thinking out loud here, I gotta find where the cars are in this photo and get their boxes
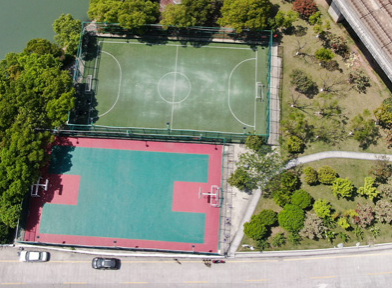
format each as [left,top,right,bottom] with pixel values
[20,249,49,263]
[91,256,119,271]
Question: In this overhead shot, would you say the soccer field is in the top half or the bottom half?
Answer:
top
